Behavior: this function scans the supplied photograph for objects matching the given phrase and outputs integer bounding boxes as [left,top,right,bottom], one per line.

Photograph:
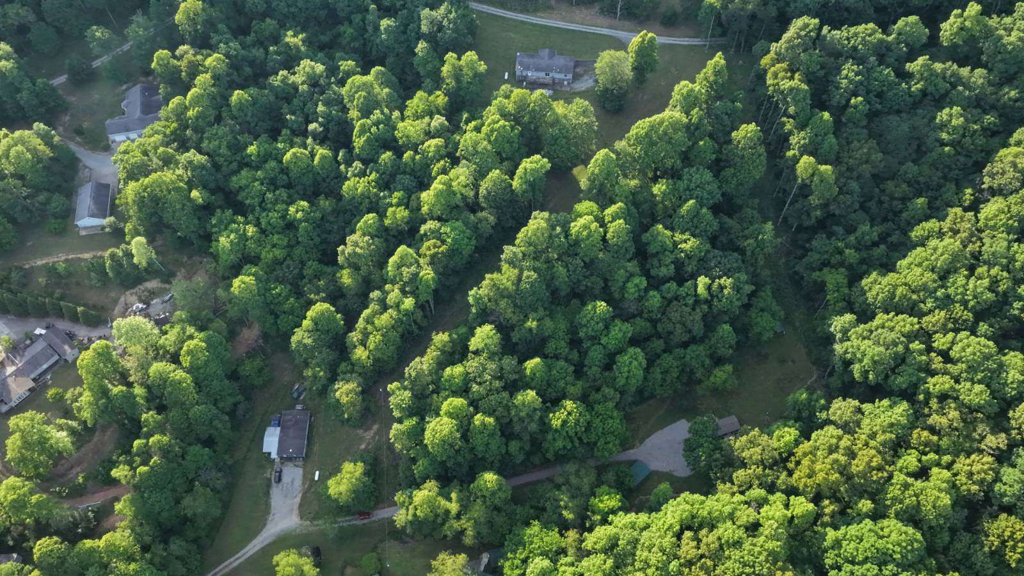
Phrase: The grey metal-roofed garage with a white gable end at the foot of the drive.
[71,181,114,236]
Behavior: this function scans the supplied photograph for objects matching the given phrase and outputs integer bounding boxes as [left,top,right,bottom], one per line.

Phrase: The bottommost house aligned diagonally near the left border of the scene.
[0,323,90,425]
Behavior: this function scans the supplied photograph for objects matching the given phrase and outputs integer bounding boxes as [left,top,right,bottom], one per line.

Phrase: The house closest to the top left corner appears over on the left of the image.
[103,78,164,133]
